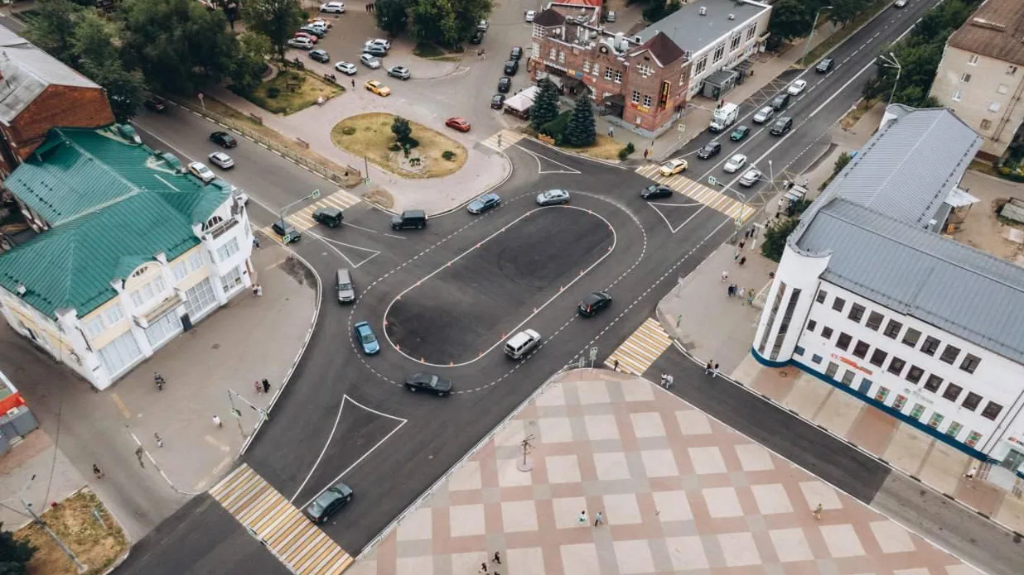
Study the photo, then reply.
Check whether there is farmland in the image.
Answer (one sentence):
No, the scene doesn't show any farmland.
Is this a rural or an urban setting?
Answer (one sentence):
This place is urban.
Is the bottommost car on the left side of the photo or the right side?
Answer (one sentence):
The bottommost car appears in the left half of the scene.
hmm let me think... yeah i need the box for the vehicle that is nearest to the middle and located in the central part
[501,330,543,363]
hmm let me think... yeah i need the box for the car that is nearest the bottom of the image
[300,482,359,530]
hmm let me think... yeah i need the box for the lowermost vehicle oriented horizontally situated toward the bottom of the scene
[402,372,455,399]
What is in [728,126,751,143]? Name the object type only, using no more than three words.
car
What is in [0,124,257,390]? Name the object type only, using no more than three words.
building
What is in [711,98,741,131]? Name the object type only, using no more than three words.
truck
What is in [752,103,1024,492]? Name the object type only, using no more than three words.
building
